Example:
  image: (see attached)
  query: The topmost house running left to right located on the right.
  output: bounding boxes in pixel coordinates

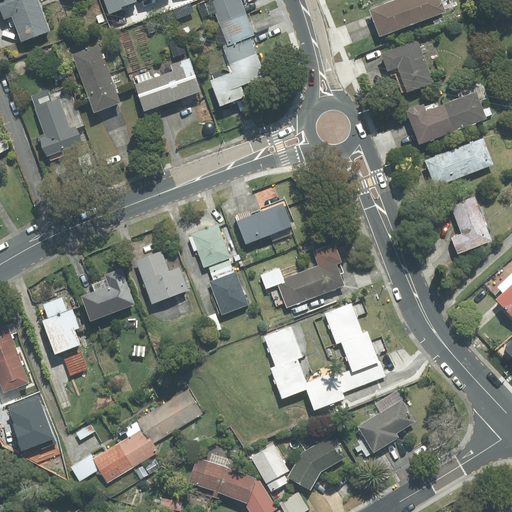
[370,0,445,36]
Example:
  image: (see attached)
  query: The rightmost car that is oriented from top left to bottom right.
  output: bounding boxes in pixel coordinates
[488,372,502,388]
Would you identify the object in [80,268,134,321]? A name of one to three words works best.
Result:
house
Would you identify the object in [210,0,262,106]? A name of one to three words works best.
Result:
building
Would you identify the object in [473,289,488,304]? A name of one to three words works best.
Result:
car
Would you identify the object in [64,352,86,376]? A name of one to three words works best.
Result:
shed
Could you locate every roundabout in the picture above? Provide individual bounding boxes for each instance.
[316,110,351,145]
